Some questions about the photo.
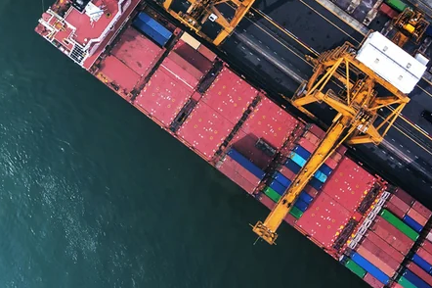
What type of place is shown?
port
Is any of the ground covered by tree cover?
No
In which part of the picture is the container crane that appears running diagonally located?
right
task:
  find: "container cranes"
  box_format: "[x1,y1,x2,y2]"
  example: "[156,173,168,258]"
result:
[251,10,430,244]
[158,0,254,50]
